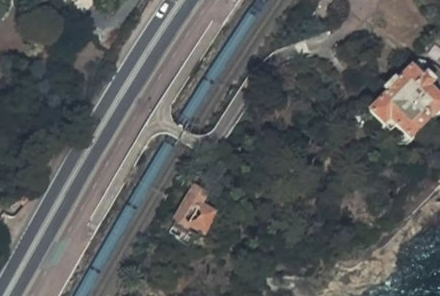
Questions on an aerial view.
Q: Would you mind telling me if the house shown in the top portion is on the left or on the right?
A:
right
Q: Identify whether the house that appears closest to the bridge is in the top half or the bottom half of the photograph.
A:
bottom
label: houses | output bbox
[169,184,217,242]
[370,62,440,147]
